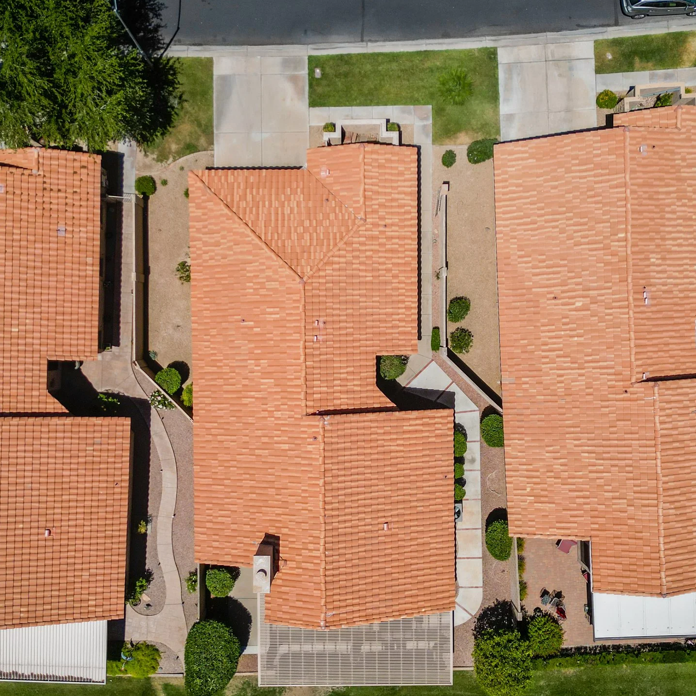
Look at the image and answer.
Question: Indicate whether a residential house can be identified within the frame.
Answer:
Yes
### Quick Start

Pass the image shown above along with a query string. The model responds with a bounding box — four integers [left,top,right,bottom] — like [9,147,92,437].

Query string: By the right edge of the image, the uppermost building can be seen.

[495,102,696,595]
